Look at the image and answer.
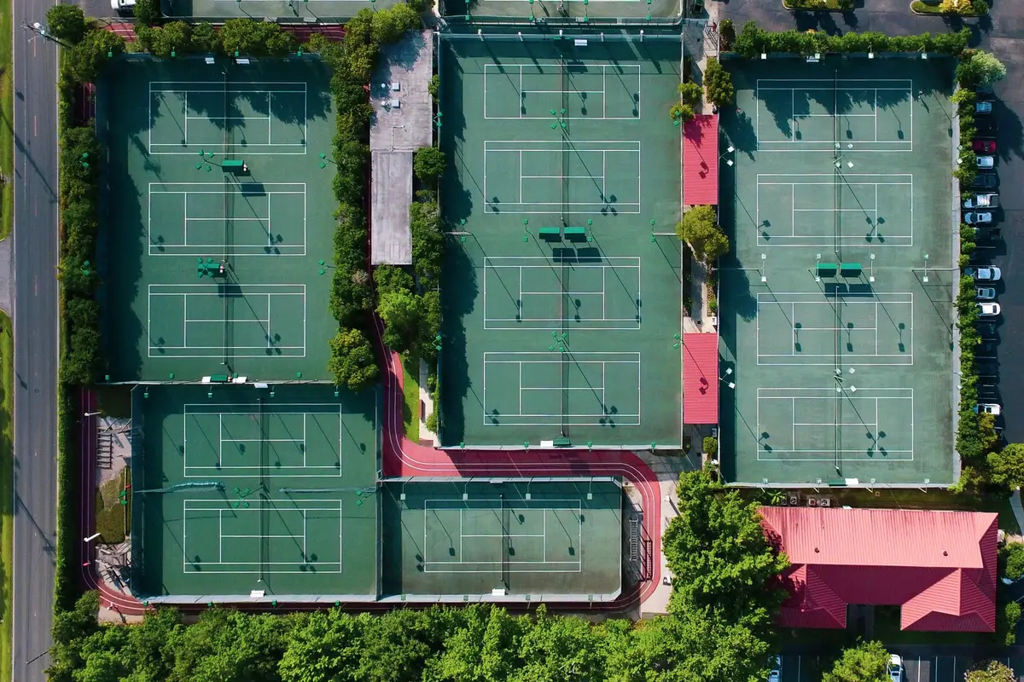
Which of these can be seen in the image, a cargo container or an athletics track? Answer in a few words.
athletics track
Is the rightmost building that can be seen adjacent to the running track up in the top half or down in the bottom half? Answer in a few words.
bottom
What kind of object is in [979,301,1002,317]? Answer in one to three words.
car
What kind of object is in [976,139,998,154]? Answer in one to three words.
car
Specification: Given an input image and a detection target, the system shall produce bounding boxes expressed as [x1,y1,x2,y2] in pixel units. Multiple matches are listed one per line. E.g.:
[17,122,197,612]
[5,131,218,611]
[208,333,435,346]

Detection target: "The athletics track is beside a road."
[76,22,661,616]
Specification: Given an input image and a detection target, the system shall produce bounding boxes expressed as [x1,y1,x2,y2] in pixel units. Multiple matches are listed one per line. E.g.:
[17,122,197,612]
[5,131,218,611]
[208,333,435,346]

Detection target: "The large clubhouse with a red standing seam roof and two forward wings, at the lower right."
[756,507,998,636]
